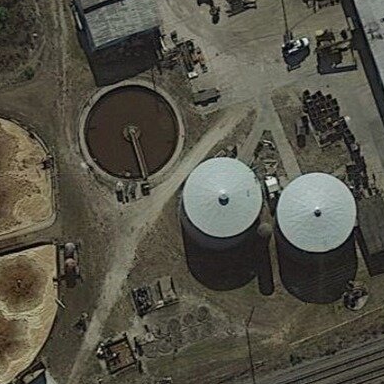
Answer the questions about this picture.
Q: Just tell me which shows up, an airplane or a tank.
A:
tank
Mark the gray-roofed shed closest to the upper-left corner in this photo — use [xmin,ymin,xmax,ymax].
[74,0,160,56]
